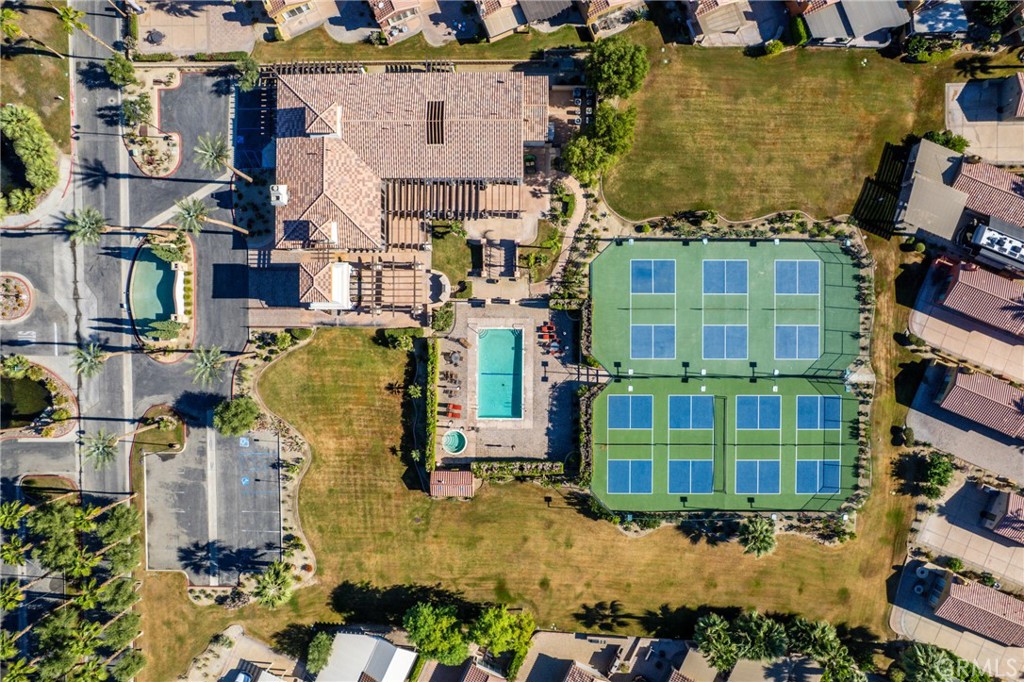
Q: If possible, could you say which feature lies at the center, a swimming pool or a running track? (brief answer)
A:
swimming pool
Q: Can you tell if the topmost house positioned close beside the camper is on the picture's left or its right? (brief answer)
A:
right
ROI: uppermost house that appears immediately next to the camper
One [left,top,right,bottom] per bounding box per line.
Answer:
[946,136,1024,222]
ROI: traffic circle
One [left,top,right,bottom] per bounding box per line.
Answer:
[0,271,35,325]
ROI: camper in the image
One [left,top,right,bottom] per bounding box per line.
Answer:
[960,222,1024,273]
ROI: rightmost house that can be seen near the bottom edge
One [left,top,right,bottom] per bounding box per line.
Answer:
[926,563,1024,649]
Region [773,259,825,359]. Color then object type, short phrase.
blue sports court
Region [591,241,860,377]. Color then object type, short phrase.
green sports court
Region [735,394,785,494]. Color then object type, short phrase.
blue sports court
